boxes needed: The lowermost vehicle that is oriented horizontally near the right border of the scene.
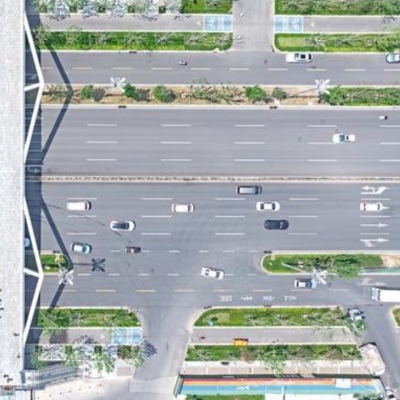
[362,287,400,303]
